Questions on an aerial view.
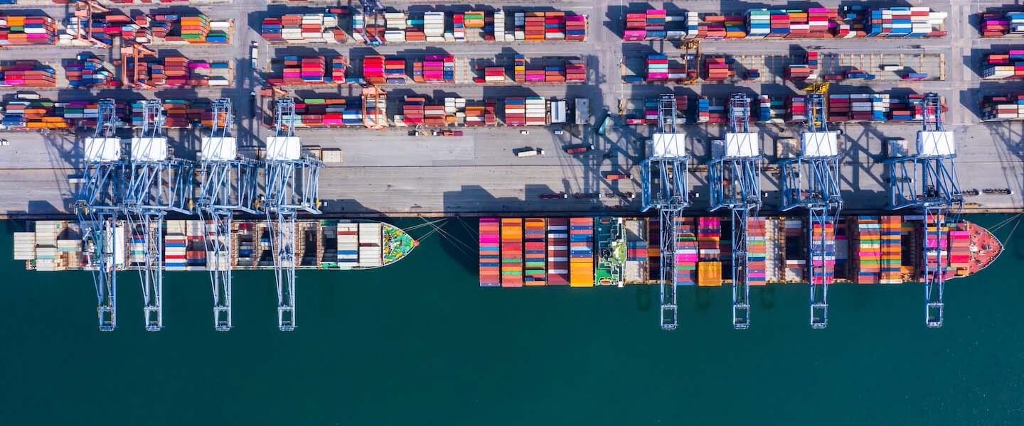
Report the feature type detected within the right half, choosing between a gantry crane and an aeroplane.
gantry crane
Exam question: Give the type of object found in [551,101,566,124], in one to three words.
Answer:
shed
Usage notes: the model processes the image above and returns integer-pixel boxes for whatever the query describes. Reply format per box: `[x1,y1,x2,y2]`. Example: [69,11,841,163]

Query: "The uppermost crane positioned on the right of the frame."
[674,33,700,86]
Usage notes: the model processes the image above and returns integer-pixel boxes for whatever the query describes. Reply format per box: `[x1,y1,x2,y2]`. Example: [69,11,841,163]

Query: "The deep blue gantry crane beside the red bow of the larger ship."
[873,90,967,326]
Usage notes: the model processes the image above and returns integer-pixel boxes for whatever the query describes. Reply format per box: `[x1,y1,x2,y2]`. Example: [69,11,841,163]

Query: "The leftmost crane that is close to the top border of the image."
[73,0,111,50]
